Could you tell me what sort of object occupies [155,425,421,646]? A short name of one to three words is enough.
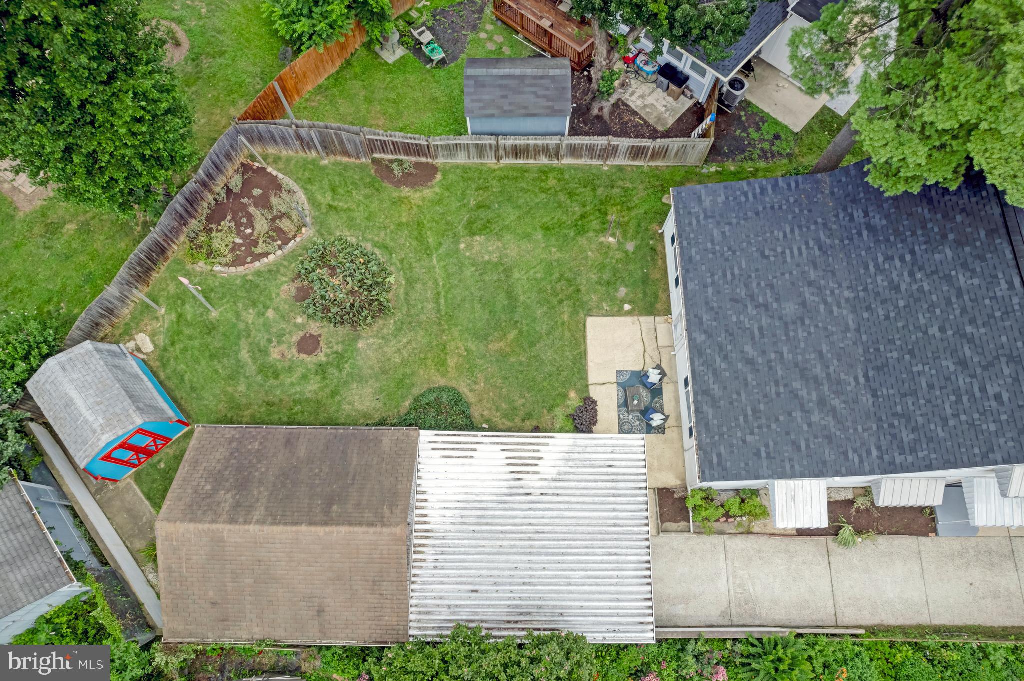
building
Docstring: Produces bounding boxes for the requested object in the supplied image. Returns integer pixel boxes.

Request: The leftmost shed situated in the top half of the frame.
[463,58,574,146]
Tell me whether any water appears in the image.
No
